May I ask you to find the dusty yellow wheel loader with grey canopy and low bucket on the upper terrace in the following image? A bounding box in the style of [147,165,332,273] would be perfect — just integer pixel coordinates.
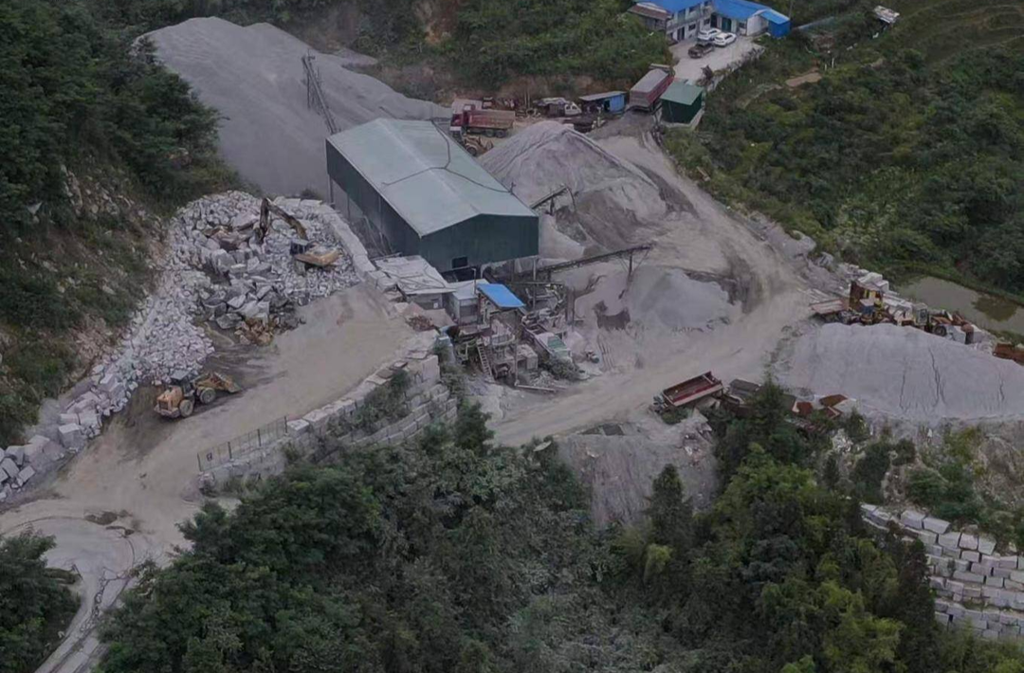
[162,362,248,415]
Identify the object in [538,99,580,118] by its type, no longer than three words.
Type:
vehicle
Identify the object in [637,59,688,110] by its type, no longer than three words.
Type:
truck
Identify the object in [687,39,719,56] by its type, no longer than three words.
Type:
vehicle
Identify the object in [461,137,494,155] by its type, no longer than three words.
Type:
work vehicle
